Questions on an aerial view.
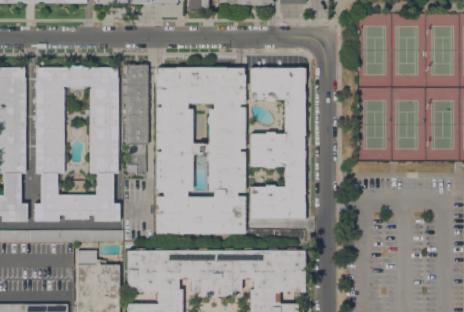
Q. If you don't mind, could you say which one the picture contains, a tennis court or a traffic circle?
tennis court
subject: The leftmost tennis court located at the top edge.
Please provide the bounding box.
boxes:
[360,12,392,86]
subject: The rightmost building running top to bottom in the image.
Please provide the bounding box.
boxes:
[250,67,308,218]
